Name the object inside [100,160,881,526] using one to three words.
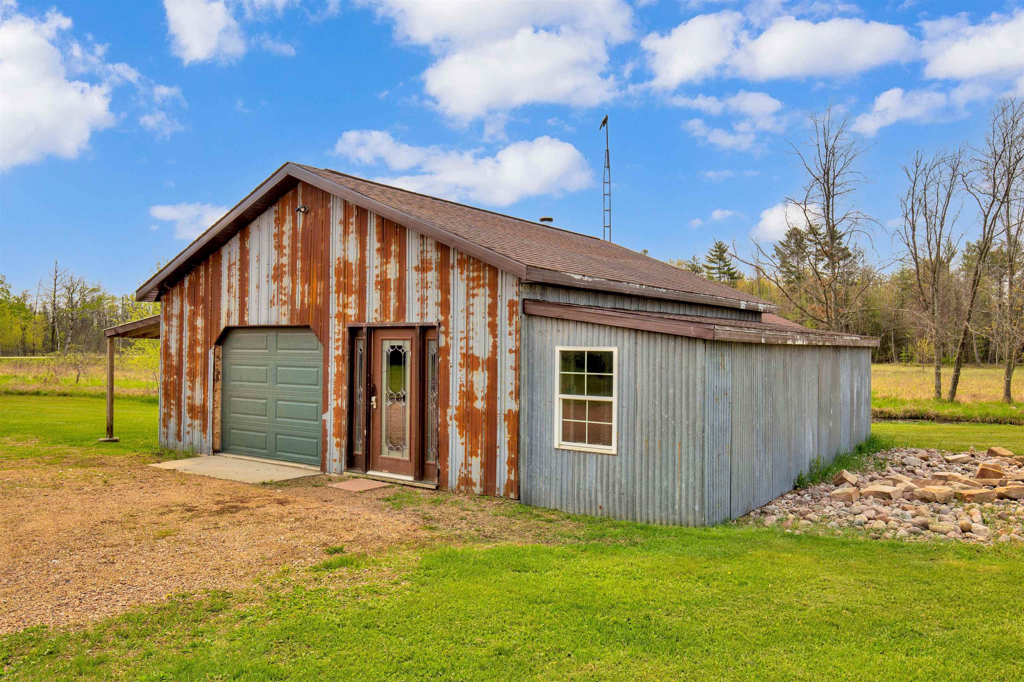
building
